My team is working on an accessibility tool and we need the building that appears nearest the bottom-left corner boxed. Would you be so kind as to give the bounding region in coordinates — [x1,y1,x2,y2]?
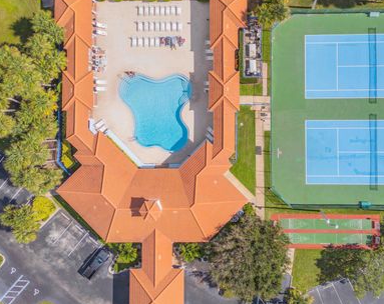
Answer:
[55,0,250,304]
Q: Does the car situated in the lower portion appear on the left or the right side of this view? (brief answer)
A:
left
